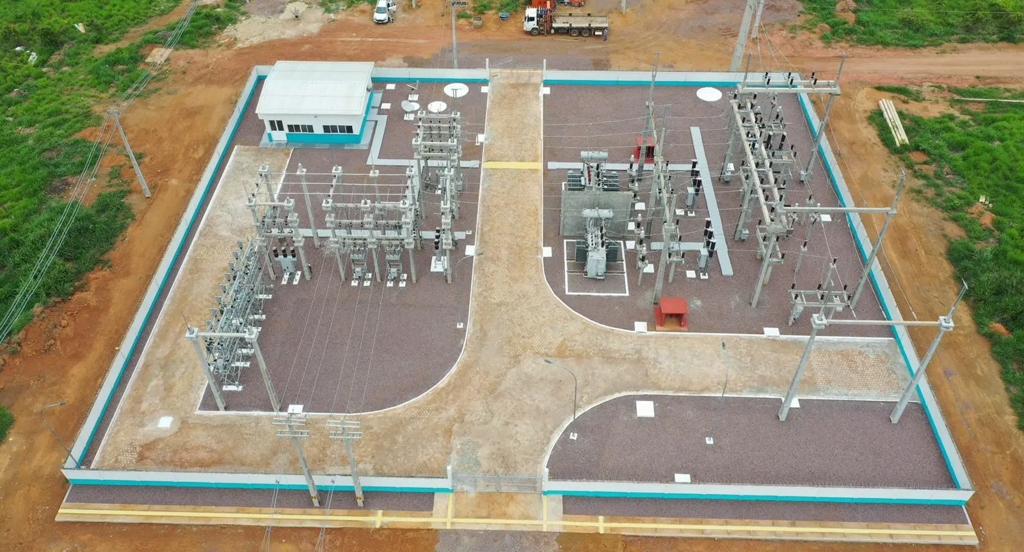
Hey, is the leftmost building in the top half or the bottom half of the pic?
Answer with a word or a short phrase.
top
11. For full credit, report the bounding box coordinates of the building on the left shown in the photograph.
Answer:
[254,60,376,144]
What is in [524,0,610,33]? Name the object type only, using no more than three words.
truck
